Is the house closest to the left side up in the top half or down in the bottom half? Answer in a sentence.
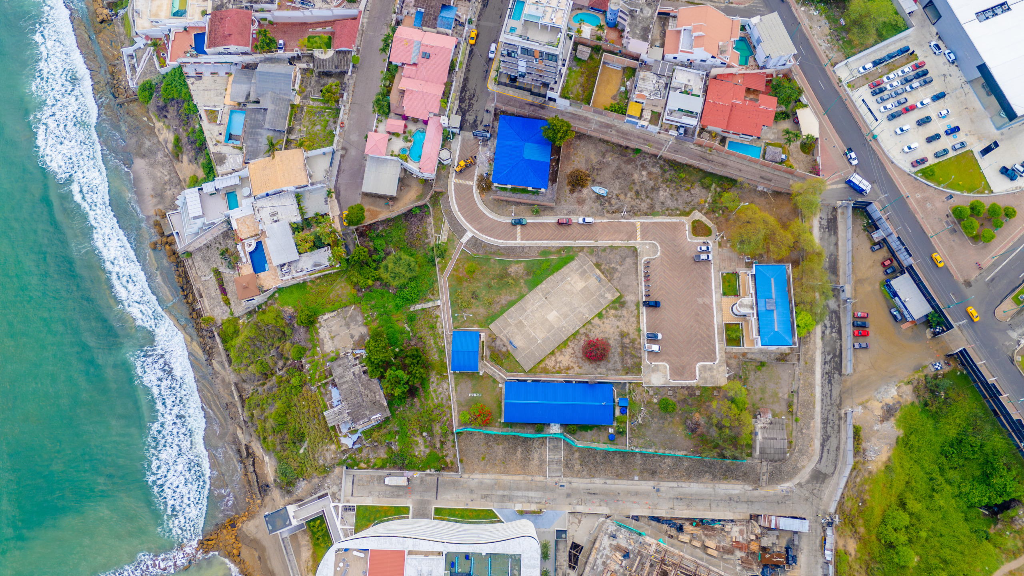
The house closest to the left side is in the top half of the image.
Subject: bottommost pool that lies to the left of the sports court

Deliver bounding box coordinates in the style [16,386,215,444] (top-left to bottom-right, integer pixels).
[247,239,271,275]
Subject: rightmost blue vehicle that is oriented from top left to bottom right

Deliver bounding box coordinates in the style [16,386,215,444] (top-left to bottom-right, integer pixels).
[1001,165,1020,179]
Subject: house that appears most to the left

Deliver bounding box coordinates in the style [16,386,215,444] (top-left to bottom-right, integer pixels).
[133,0,216,38]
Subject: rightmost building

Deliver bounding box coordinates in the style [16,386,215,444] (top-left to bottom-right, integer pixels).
[913,0,1024,131]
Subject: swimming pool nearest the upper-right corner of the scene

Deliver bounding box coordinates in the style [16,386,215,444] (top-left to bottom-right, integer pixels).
[733,35,754,67]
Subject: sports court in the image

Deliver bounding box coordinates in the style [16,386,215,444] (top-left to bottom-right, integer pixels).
[489,253,620,372]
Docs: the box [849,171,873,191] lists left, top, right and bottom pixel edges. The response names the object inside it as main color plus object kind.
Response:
white vehicle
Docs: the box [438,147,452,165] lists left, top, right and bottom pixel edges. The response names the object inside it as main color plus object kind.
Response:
white gazebo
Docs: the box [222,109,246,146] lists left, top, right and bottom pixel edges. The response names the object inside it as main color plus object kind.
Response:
blue swimming pool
